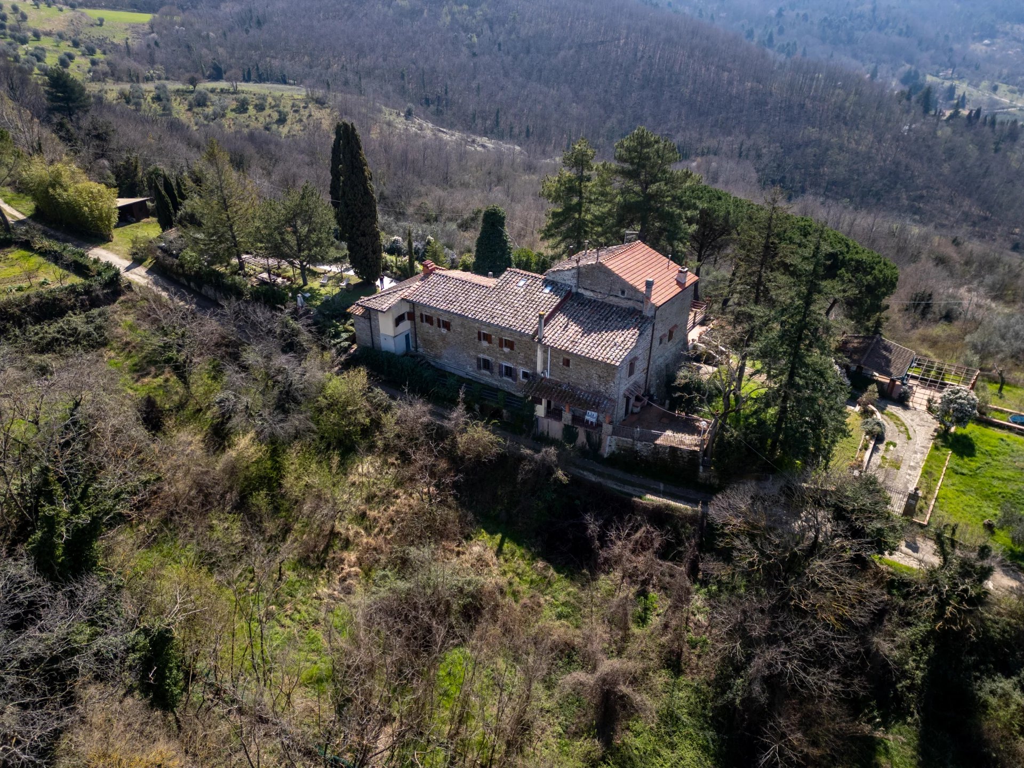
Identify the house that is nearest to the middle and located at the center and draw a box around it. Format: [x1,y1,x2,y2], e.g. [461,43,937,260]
[345,231,702,469]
